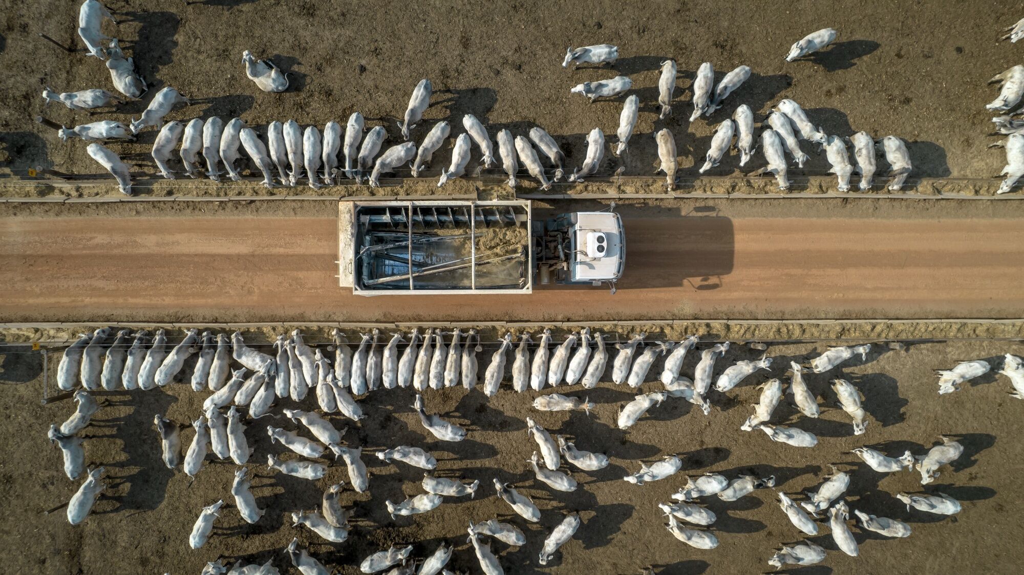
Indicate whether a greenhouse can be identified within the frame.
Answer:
No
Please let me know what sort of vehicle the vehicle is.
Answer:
truck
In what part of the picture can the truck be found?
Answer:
center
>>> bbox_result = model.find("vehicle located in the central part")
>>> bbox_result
[335,190,626,297]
